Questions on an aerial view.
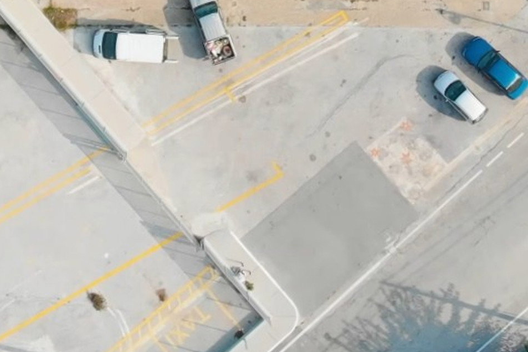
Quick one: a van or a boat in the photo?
van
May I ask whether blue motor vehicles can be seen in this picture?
Yes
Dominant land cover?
paved ground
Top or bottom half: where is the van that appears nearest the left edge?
top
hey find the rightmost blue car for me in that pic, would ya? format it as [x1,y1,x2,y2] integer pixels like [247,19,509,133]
[460,36,527,102]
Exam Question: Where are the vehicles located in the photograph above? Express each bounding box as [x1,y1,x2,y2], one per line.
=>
[432,67,489,124]
[93,25,180,63]
[460,36,527,102]
[190,0,237,67]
